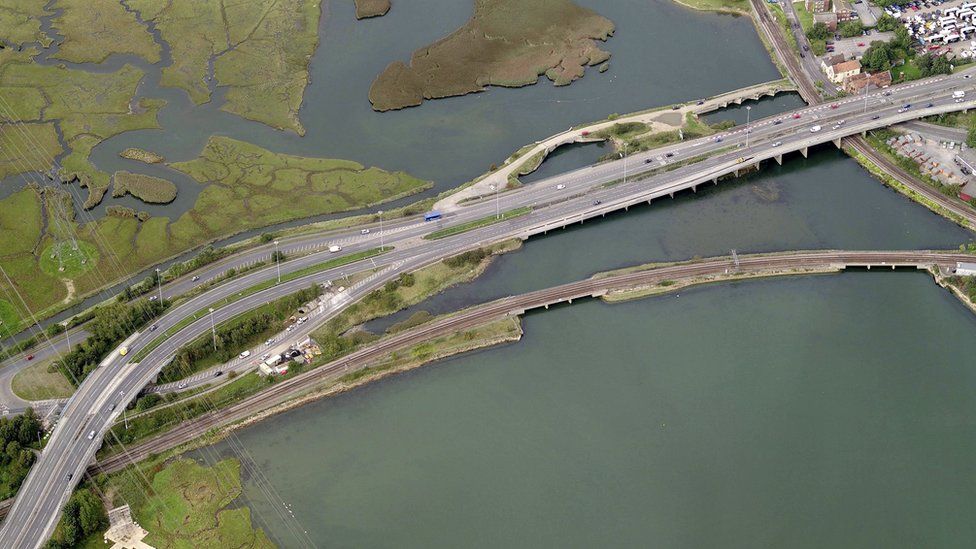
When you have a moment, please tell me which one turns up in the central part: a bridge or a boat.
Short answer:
bridge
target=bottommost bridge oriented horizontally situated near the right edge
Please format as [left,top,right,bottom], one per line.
[829,249,935,275]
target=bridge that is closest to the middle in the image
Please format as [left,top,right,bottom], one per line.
[504,272,608,317]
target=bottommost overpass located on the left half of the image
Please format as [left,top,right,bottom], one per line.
[0,337,176,549]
